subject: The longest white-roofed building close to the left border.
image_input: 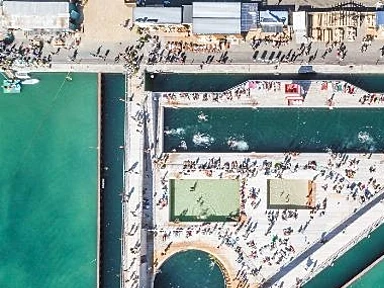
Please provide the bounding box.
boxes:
[1,1,76,32]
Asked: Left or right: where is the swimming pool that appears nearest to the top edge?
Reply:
right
